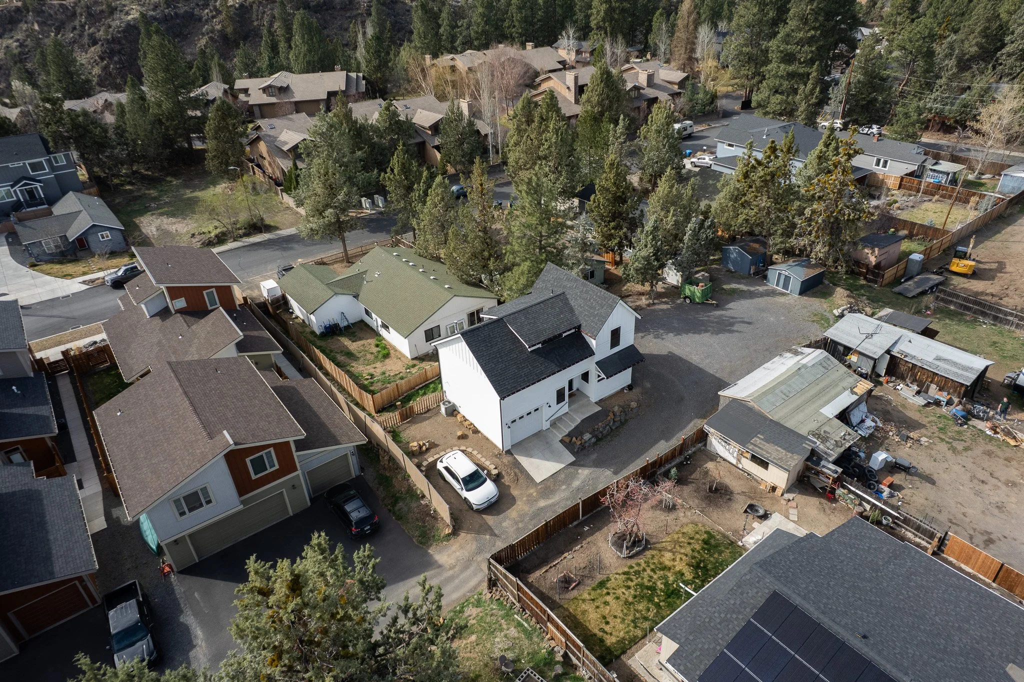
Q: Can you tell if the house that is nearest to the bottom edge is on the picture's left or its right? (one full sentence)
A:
The house that is nearest to the bottom edge sits on the right side.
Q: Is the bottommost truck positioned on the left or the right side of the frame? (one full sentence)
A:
The bottommost truck is on the left side of the image.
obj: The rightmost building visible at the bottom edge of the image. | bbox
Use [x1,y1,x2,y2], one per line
[651,516,1024,682]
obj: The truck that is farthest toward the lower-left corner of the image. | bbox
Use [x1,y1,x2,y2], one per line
[98,564,162,682]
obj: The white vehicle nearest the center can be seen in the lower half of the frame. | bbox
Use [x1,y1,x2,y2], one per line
[436,446,504,513]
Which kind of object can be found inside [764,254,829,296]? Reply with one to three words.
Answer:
shed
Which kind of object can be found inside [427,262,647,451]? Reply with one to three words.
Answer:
house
